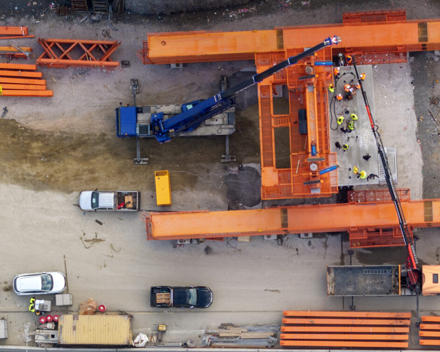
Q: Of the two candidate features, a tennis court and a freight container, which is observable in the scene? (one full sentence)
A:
This aerial view contains a freight container.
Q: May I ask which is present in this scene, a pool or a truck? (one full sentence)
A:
The image shows a truck.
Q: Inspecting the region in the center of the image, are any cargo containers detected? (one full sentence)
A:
No, the scene shows no cargo container in the center of the image.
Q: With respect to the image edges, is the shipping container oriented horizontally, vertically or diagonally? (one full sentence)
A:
I'd say the shipping container is aligned horizontally in the picture.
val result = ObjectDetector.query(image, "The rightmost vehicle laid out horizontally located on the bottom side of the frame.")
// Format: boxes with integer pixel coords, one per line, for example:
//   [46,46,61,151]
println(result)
[150,283,213,310]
